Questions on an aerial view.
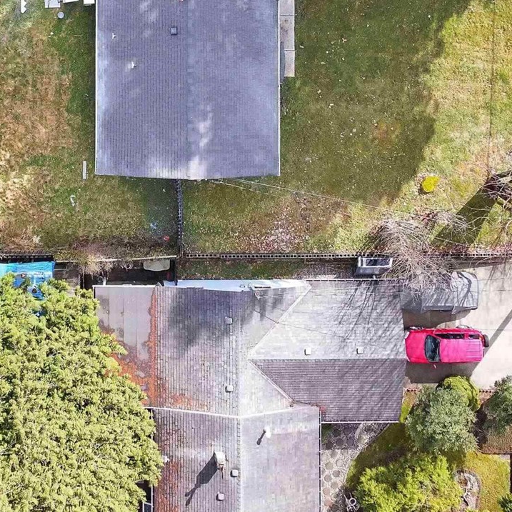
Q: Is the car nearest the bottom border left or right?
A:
right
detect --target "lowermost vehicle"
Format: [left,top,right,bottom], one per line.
[406,329,495,374]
